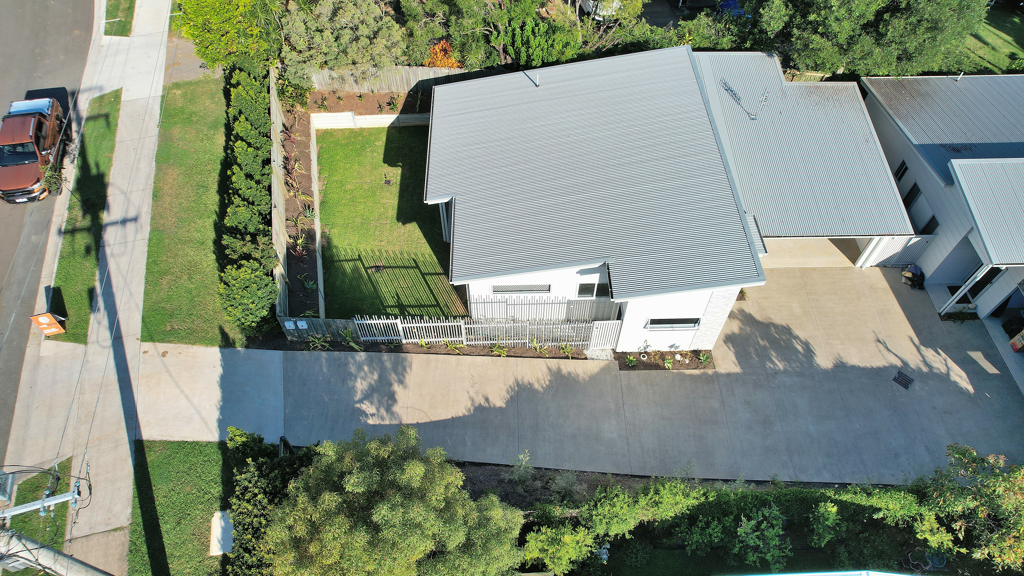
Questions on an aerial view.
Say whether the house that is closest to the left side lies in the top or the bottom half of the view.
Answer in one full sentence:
It is in the top half that the house that is closest to the left side appears.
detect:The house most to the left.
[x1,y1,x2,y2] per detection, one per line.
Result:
[425,43,914,353]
